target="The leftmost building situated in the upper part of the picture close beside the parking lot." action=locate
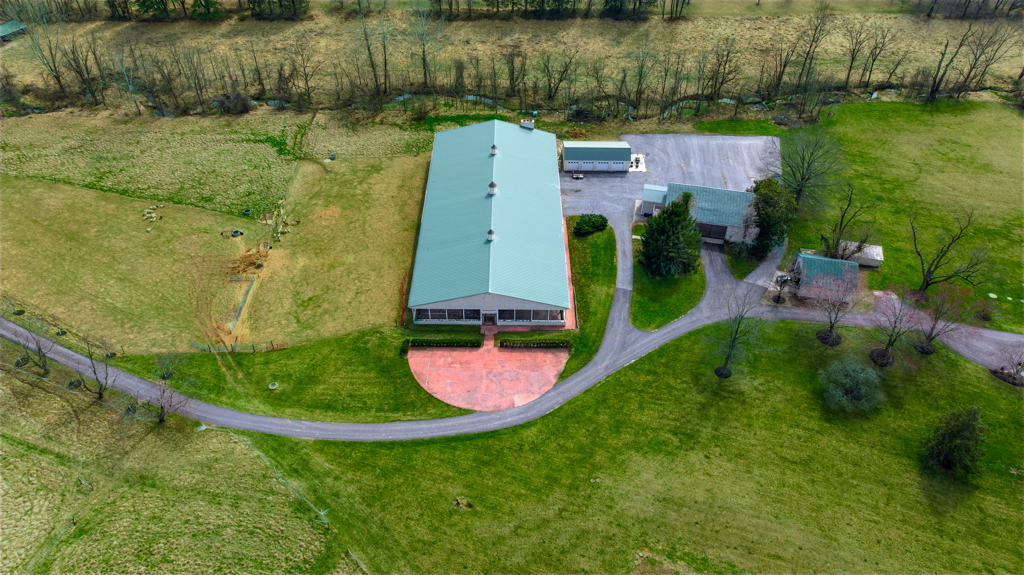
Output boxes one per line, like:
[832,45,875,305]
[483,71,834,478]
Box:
[408,115,569,325]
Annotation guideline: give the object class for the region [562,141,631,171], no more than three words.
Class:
building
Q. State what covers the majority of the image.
grass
